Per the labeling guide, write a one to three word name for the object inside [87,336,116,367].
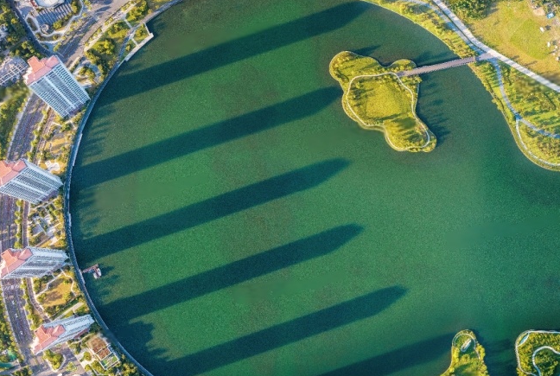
building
